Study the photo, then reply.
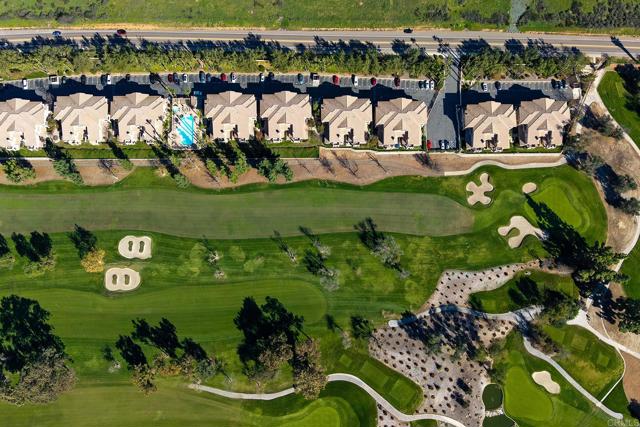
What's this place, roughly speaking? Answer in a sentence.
The picture captures a golf course.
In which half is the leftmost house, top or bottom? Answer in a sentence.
Seen from above, the leftmost house lies in the top half of the view.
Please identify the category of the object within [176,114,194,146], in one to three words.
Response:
swimming pool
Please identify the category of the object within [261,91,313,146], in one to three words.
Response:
house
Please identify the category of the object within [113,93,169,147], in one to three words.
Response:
house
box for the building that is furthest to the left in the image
[0,98,54,153]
